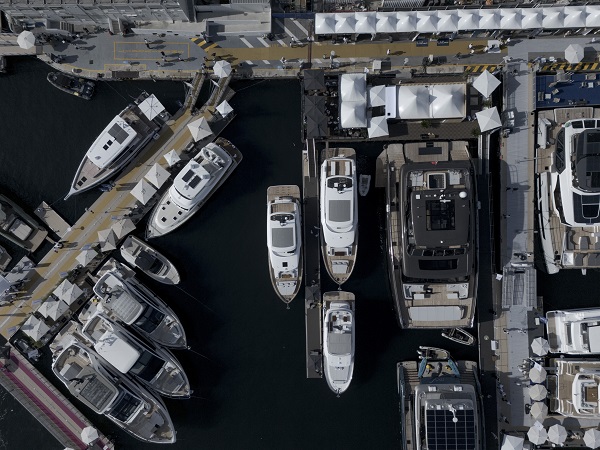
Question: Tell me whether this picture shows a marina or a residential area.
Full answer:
The picture captures a marina.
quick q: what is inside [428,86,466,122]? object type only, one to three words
tent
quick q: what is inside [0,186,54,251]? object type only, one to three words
boat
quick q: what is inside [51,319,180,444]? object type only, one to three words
boat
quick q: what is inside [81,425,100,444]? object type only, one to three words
umbrella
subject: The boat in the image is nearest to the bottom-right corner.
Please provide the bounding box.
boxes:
[546,361,600,418]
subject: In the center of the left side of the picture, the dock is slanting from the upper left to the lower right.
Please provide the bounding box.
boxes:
[35,201,72,238]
